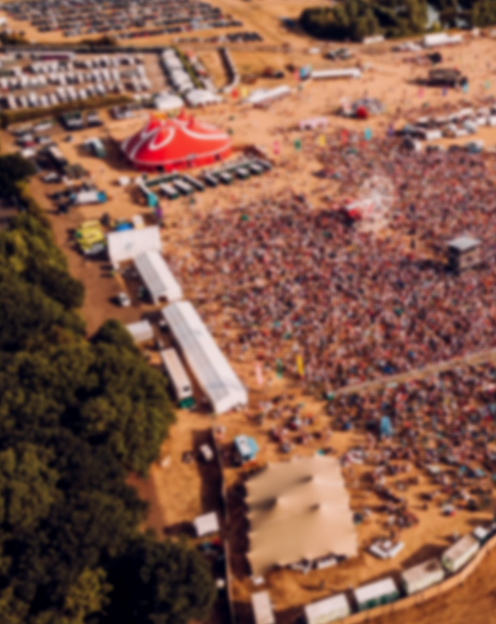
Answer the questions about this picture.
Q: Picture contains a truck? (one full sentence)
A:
Yes, the picture does show a truck.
